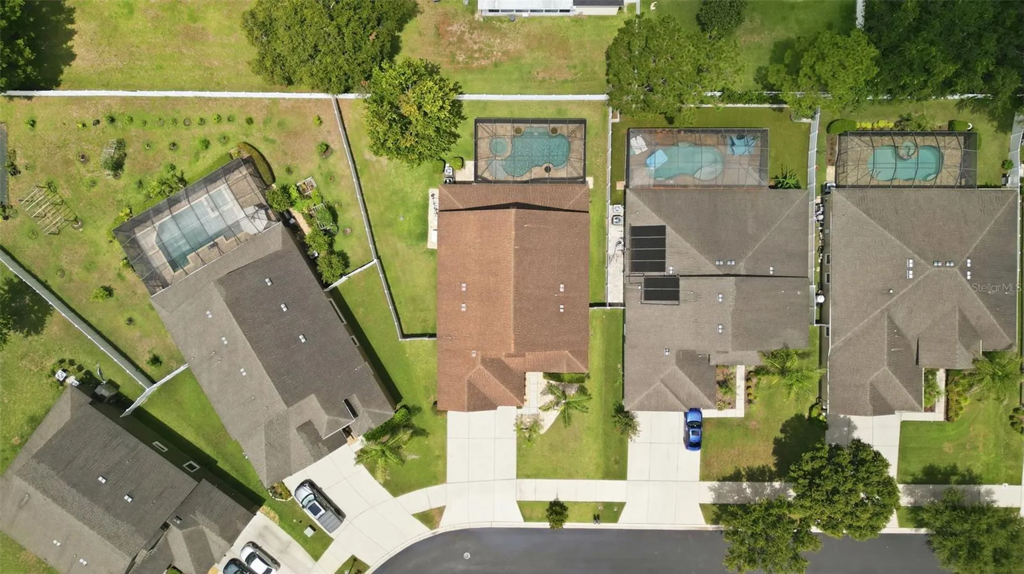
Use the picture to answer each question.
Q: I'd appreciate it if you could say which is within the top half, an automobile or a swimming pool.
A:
swimming pool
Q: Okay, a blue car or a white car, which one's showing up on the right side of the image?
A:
blue car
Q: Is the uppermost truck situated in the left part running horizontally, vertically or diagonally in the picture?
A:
diagonally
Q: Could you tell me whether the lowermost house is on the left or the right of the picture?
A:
left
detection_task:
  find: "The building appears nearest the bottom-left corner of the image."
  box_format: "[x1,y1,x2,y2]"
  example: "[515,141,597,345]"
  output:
[0,386,259,574]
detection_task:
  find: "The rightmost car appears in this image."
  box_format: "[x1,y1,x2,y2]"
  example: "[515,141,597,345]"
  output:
[680,410,705,452]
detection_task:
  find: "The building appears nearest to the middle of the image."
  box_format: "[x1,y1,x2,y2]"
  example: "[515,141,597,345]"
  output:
[437,184,589,414]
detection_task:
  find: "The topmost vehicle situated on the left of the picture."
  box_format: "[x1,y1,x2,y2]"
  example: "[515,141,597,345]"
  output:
[294,478,349,537]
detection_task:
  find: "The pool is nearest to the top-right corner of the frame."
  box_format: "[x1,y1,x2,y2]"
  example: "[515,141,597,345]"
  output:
[864,138,947,184]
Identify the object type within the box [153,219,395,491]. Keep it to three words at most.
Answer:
house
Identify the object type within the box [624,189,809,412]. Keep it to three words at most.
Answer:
house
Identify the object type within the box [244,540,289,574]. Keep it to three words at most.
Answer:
car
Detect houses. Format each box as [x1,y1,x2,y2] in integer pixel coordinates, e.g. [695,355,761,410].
[479,0,623,19]
[437,184,589,414]
[153,219,395,491]
[819,188,1018,418]
[0,386,259,574]
[624,189,809,412]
